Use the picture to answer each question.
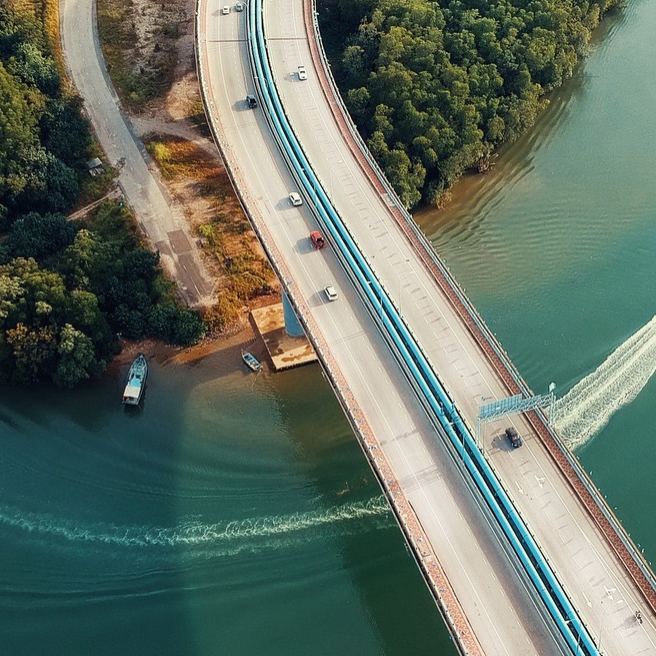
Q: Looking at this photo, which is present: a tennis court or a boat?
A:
boat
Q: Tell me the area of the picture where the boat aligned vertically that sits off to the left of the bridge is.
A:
left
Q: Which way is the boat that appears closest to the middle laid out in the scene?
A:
on a diagonal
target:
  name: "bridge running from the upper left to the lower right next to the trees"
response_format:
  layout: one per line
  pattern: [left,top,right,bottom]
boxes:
[191,0,656,656]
